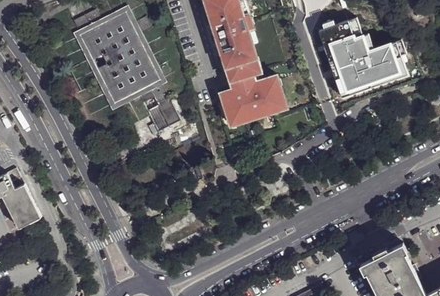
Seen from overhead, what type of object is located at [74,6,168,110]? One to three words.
building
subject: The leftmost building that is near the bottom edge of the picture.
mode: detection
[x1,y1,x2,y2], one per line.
[360,245,426,296]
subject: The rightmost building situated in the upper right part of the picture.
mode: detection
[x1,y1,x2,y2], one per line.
[320,20,412,100]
